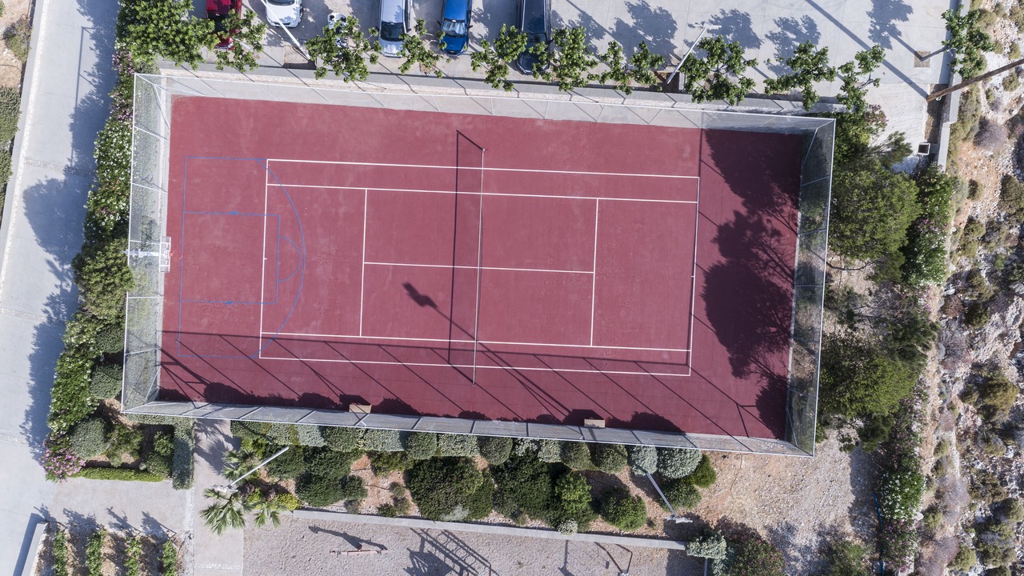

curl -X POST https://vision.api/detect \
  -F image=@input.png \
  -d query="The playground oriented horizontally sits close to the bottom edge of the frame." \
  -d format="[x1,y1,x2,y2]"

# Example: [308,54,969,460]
[243,509,707,576]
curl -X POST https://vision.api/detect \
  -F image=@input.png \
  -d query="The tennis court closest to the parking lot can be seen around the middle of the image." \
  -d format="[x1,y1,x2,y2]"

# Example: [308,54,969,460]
[160,95,803,439]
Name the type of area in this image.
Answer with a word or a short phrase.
sports ground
